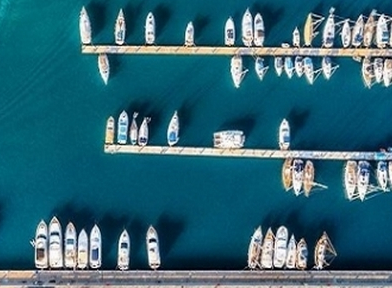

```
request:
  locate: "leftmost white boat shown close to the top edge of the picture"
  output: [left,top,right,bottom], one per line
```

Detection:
[78,6,91,46]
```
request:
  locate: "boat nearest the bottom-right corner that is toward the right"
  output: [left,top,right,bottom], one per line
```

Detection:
[314,232,339,270]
